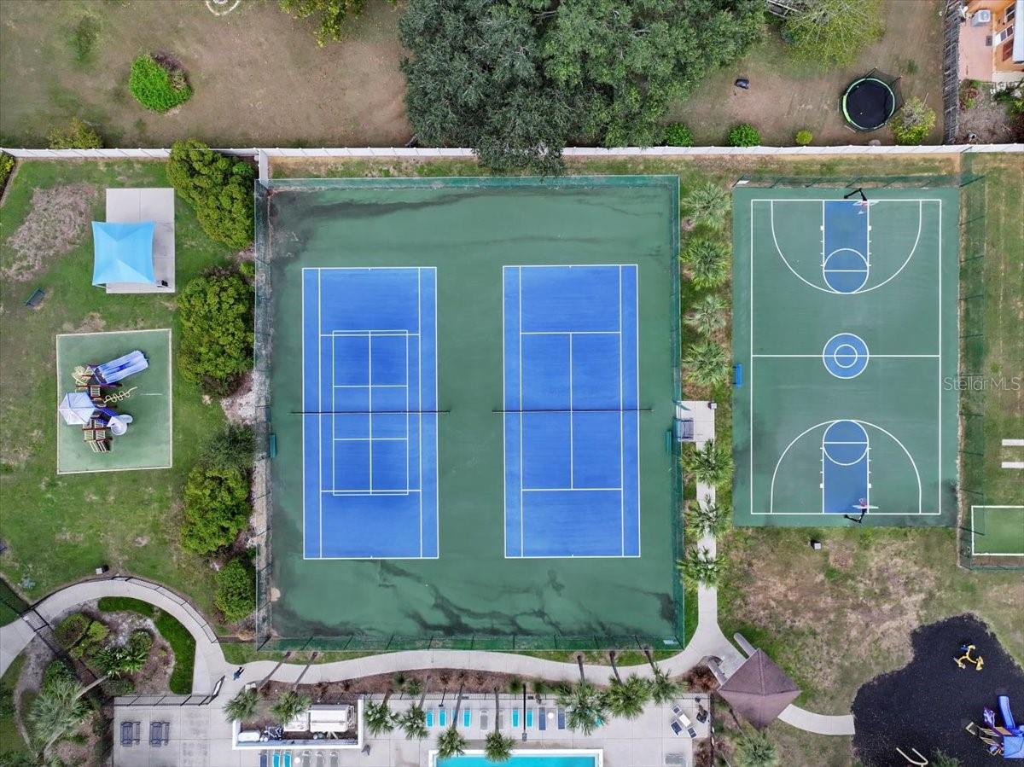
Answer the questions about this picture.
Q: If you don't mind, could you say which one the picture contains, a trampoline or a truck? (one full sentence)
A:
This aerial view contains a trampoline.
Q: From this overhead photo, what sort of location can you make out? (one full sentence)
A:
It's a sports ground.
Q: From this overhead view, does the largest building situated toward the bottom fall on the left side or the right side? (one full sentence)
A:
The largest building situated toward the bottom sits on the right side.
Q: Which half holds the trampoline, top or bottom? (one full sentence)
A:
Seen from above, the trampoline lies in the top half of the view.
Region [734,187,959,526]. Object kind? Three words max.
basketball court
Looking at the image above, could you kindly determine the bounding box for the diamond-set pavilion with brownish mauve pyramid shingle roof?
[711,638,802,731]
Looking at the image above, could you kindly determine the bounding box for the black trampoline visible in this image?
[838,67,905,133]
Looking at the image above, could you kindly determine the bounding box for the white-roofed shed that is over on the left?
[308,705,349,732]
